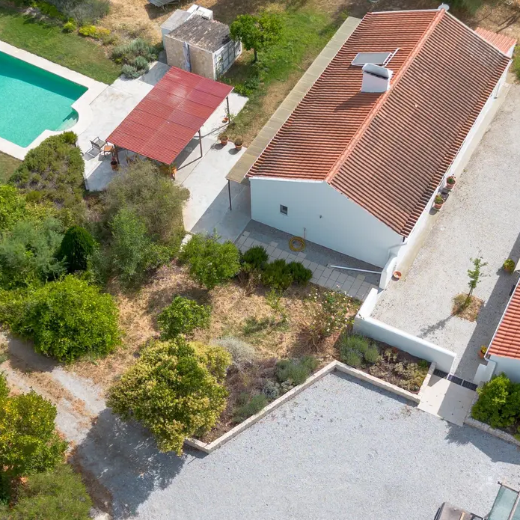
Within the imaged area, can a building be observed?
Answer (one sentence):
Yes, a building is visible in the scene.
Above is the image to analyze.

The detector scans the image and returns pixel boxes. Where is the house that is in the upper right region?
[244,6,519,278]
